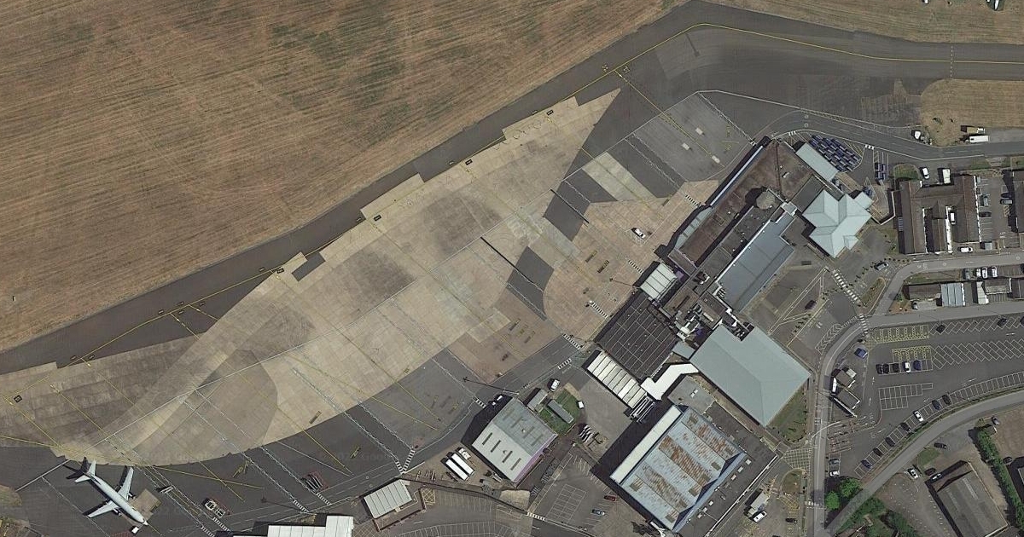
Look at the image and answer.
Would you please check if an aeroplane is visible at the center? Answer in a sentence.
No, no aeroplane can be made out at the center.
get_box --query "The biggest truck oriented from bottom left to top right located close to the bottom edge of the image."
[749,490,770,512]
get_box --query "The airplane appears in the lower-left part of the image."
[75,460,149,525]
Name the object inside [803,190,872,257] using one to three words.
building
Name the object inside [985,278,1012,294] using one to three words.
shed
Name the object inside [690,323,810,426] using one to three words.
building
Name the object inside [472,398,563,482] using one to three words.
hangar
